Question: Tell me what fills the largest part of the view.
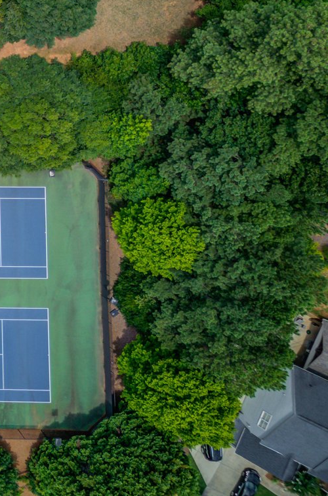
trees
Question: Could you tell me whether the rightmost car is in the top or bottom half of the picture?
bottom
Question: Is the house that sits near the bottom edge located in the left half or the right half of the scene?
right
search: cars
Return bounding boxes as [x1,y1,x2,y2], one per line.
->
[227,464,258,496]
[199,427,224,462]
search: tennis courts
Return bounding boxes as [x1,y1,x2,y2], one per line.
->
[0,307,50,403]
[0,187,47,279]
